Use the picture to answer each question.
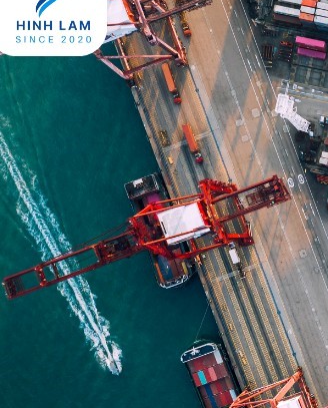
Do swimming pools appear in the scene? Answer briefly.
No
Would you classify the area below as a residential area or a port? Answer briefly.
port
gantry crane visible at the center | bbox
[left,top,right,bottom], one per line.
[0,174,289,299]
